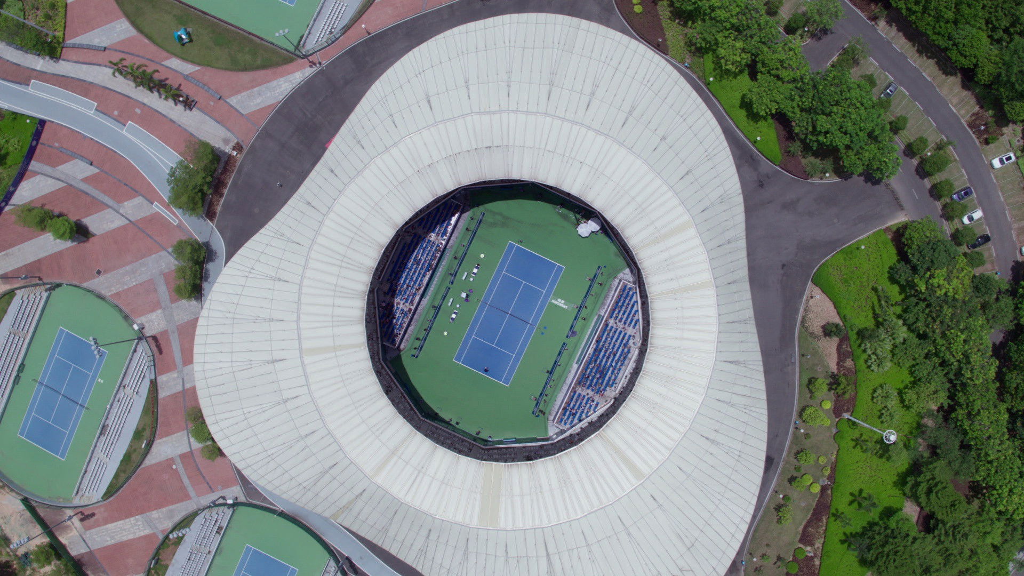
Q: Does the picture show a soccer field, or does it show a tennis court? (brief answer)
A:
tennis court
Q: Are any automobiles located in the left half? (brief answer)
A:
No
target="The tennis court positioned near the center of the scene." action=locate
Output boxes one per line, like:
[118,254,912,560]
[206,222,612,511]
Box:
[381,185,631,440]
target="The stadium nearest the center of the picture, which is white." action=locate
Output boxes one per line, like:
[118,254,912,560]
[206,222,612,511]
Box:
[193,13,768,576]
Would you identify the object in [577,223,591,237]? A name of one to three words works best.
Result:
umbrella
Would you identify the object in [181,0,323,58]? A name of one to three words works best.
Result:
tennis court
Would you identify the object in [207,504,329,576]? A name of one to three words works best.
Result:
tennis court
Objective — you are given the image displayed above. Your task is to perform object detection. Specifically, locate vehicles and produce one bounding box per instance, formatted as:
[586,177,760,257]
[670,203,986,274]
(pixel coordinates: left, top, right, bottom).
[990,151,1016,169]
[967,233,992,250]
[960,208,985,224]
[878,80,901,100]
[950,185,975,200]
